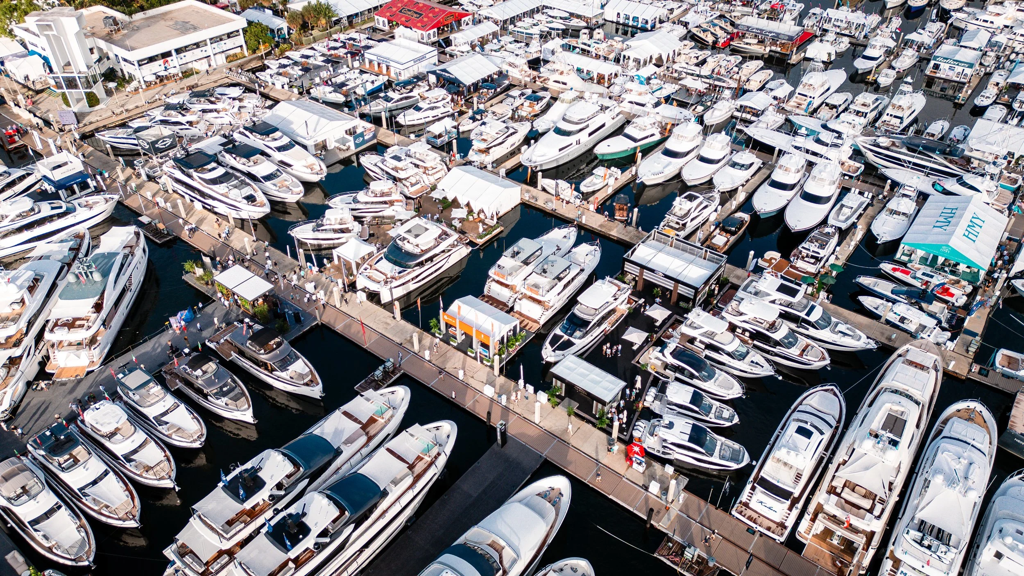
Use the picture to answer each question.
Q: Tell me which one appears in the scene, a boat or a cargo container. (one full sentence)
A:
Looking from above, you can make out a boat.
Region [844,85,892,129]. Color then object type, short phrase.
white boat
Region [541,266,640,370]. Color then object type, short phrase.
white boat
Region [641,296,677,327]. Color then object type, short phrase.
white umbrella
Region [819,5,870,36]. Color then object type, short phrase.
white tent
